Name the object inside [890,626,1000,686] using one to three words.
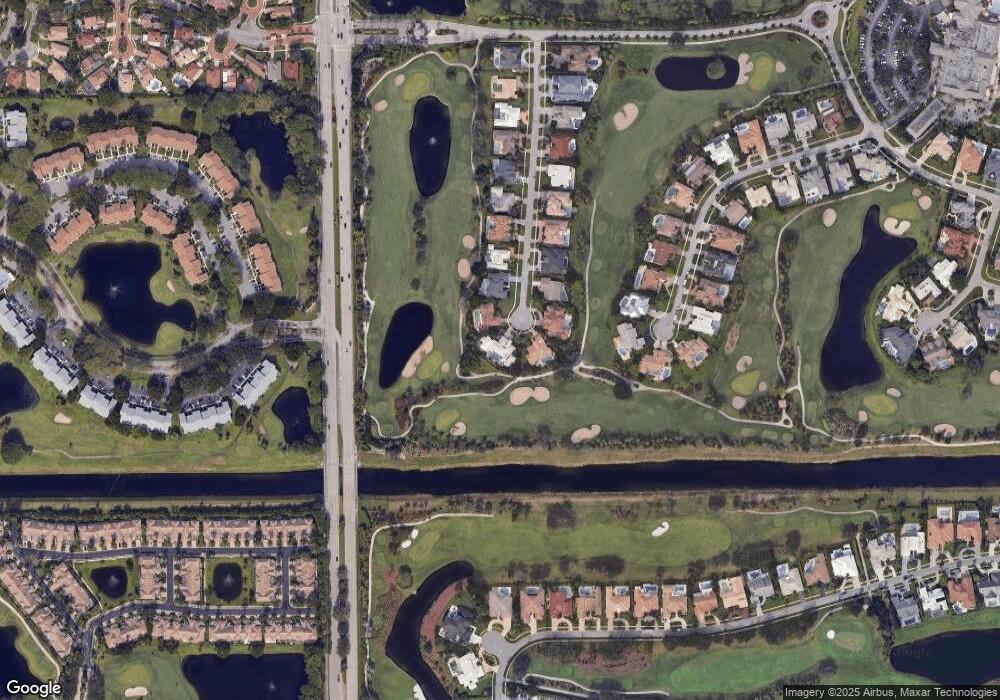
pond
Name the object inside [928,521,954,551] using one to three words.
house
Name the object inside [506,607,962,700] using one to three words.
golf course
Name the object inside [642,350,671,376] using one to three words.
house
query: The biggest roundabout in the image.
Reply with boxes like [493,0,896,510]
[802,1,838,37]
